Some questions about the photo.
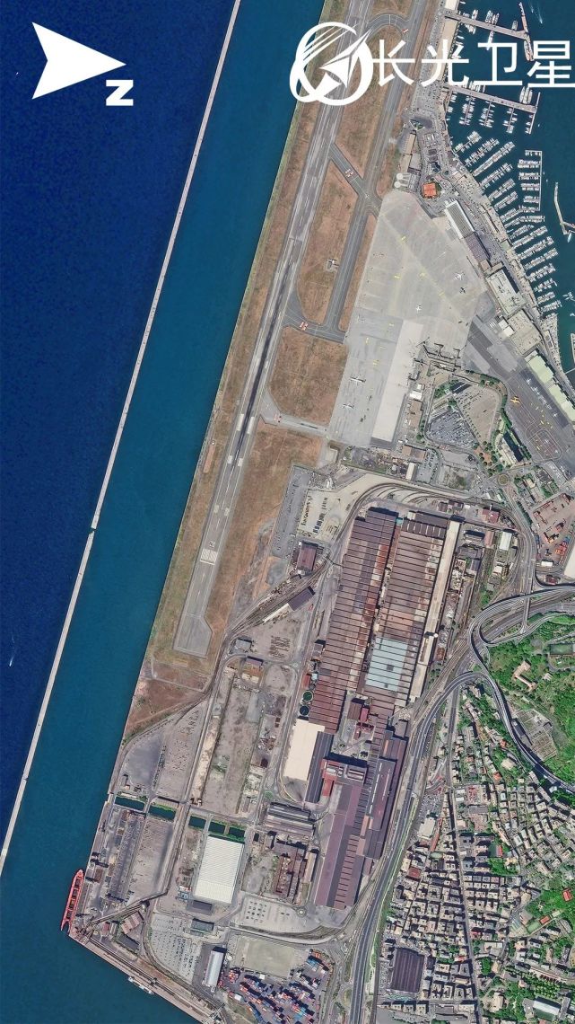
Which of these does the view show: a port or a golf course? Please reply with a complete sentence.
It's a port.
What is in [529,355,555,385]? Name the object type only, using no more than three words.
hangar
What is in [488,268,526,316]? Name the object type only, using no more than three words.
building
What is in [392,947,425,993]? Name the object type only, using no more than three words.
building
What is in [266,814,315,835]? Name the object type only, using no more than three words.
shed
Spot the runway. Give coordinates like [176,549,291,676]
[172,0,372,652]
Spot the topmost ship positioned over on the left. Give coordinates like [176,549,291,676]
[61,869,83,932]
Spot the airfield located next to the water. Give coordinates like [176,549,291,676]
[143,0,575,671]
